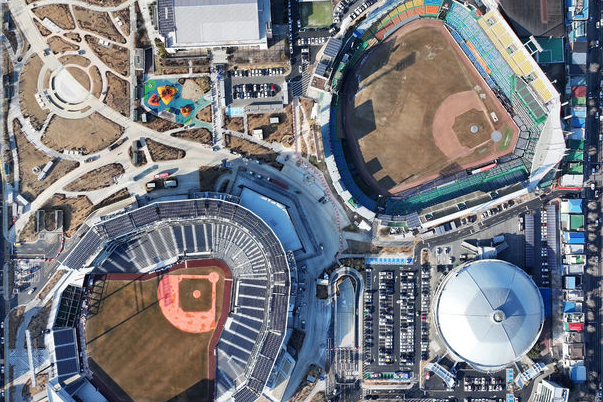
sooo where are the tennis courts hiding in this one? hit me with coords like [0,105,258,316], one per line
[527,36,565,64]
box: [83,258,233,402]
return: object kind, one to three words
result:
baseball field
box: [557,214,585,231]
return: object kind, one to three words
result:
building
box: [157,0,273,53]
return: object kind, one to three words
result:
building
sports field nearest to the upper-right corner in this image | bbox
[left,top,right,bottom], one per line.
[498,0,564,36]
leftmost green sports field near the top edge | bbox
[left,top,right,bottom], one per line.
[300,0,333,29]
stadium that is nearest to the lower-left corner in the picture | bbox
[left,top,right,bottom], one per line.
[46,189,306,402]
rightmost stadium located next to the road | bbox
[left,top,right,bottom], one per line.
[304,0,580,240]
